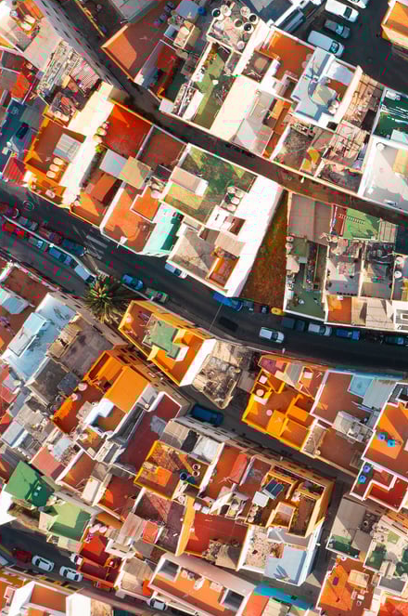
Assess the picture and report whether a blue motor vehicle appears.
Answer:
Yes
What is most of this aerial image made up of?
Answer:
buildings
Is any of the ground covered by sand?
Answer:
No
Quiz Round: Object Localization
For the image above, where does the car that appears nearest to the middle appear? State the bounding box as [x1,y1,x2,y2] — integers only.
[213,290,241,311]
